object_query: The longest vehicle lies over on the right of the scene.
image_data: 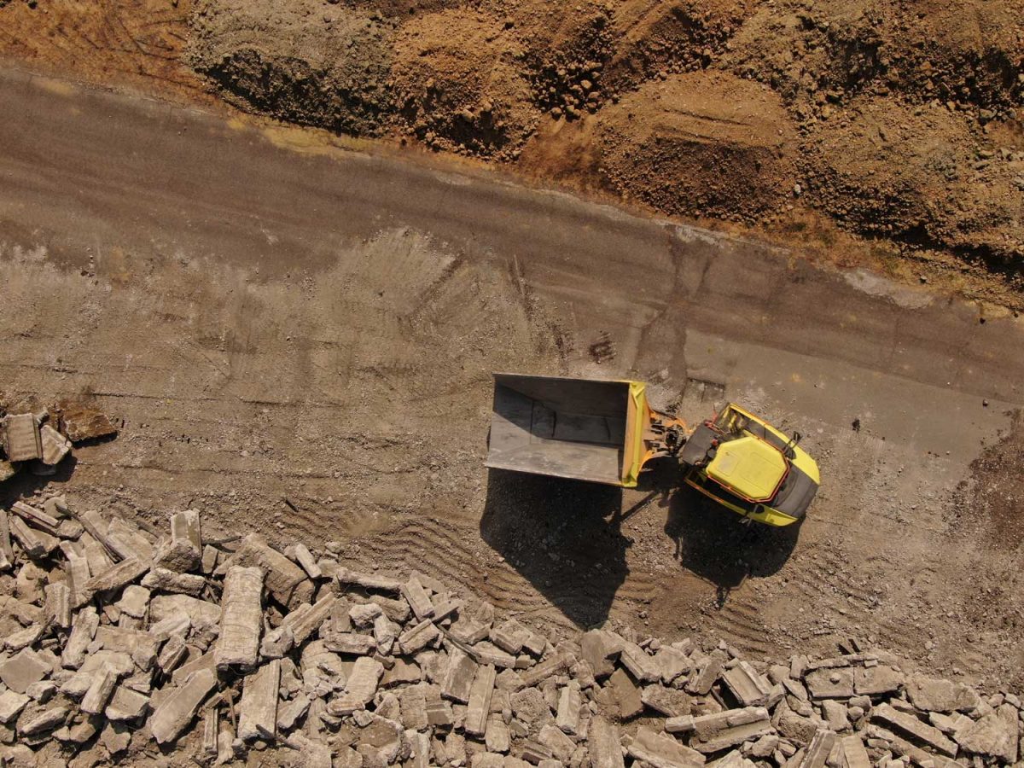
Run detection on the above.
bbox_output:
[485,374,818,528]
